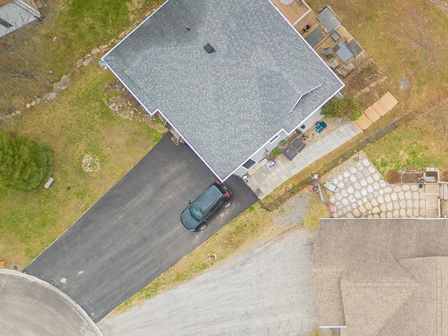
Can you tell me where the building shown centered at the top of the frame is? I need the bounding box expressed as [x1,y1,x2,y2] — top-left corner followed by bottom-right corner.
[101,0,349,183]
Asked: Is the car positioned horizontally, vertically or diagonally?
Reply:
diagonally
